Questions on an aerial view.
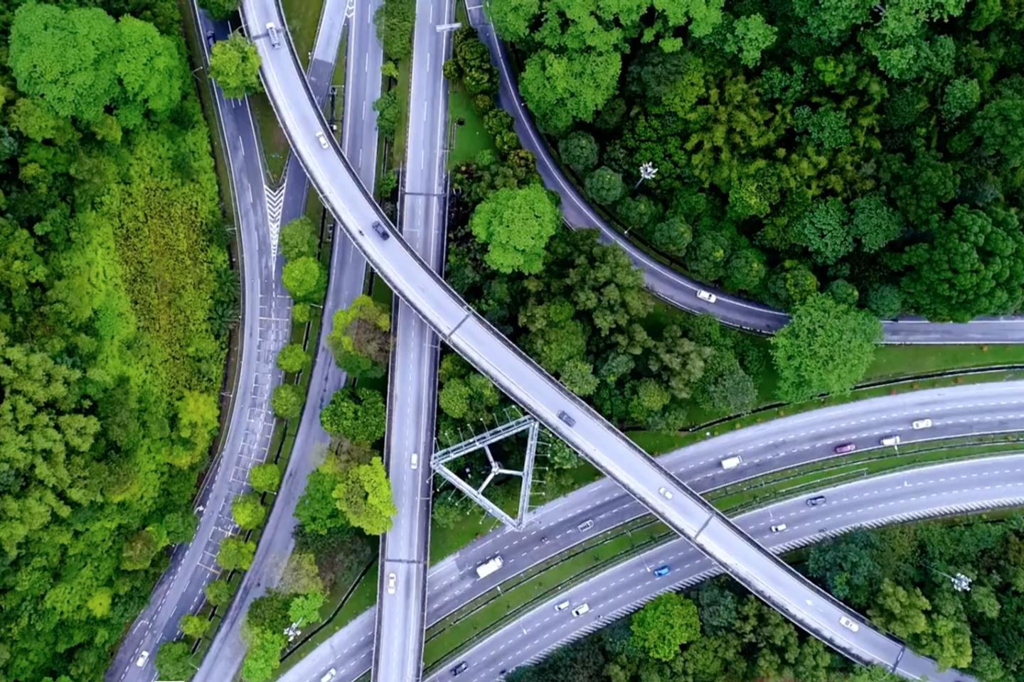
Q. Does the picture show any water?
No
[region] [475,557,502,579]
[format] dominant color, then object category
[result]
white truck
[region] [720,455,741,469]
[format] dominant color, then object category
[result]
white vehicle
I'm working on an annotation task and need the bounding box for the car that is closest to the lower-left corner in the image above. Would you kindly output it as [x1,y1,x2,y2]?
[137,650,150,667]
